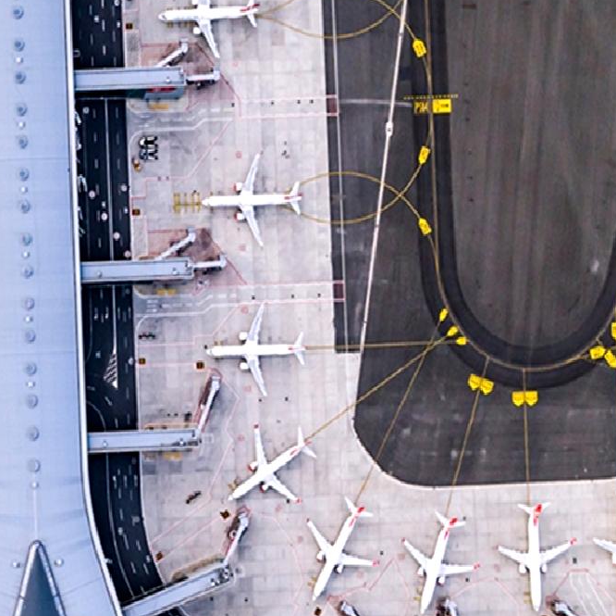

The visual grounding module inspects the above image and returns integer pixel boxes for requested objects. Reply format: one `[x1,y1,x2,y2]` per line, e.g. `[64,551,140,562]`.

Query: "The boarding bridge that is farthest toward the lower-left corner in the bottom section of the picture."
[221,513,248,567]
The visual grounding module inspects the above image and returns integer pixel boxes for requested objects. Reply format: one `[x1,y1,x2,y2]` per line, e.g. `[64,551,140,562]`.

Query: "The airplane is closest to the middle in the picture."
[206,302,309,398]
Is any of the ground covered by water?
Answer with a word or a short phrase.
No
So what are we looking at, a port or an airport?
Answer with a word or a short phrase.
airport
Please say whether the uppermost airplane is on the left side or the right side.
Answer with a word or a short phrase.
left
